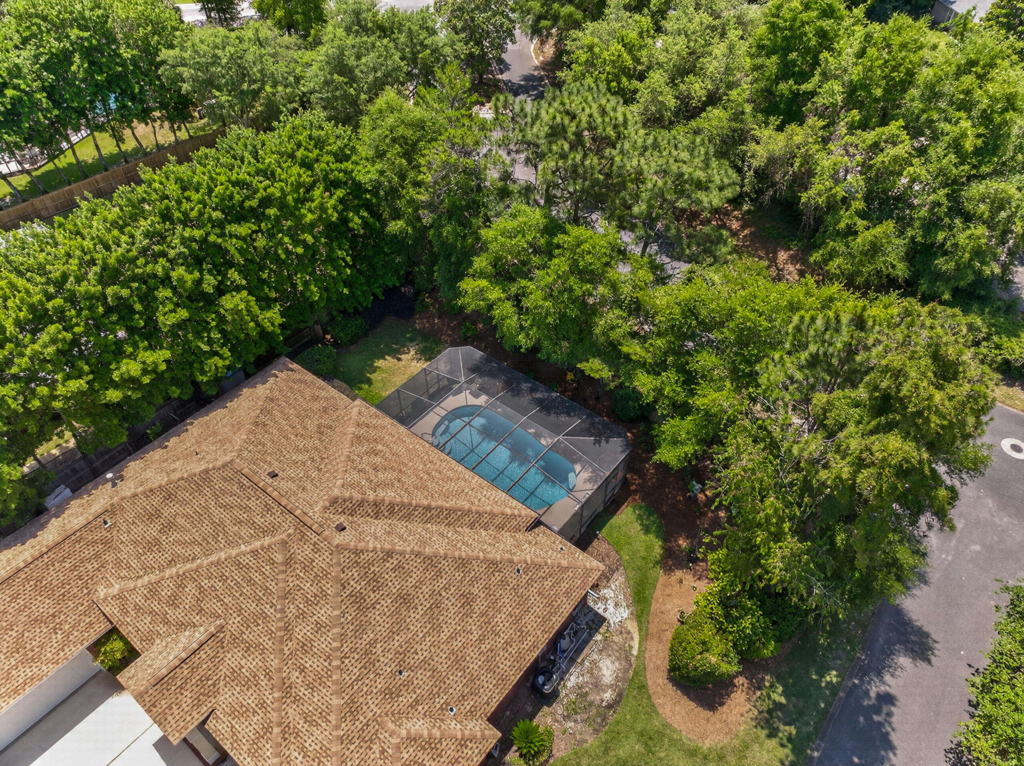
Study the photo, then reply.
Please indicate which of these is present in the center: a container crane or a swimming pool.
swimming pool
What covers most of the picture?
trees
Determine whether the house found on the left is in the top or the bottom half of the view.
bottom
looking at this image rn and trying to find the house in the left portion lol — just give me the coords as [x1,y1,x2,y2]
[0,356,607,766]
